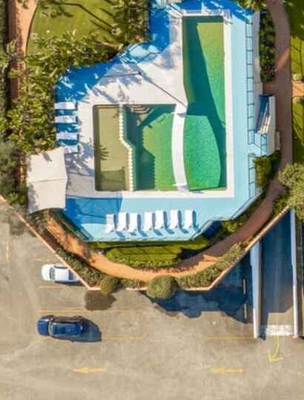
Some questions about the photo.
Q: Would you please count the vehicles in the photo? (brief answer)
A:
2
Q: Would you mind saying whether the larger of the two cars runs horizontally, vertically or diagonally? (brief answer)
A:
horizontally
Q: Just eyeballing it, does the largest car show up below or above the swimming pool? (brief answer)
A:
below it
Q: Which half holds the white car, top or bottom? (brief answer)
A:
bottom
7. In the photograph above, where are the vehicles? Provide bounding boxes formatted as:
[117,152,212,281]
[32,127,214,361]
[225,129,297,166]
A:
[41,312,89,338]
[41,263,79,284]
